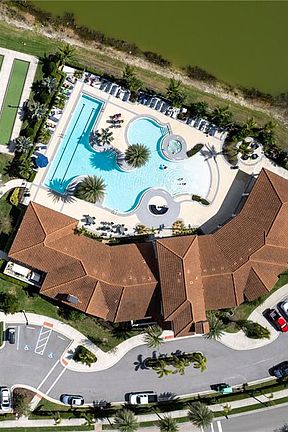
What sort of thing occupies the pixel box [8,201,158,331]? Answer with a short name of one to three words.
building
